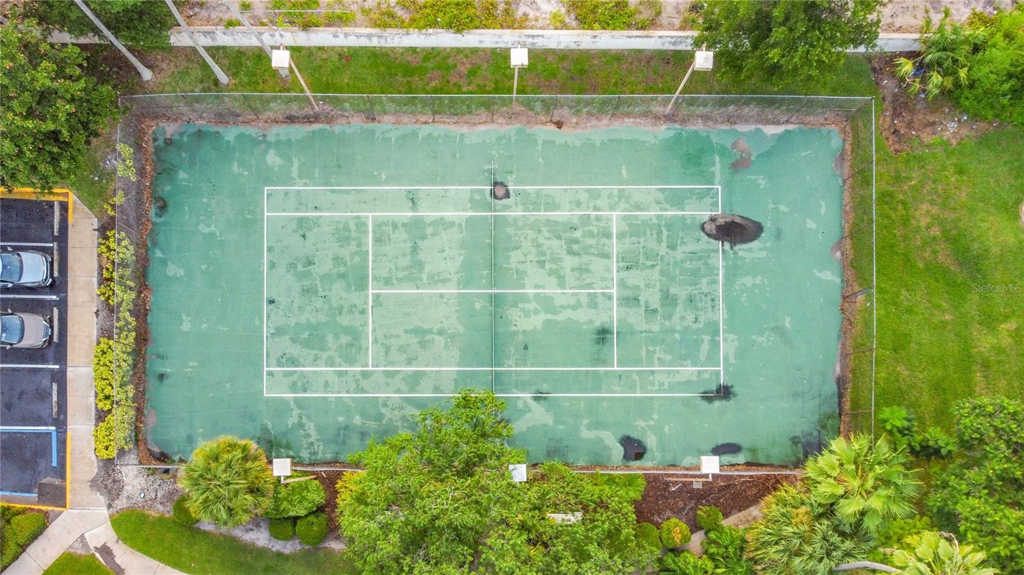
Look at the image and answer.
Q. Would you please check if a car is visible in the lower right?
No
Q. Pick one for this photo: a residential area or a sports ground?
sports ground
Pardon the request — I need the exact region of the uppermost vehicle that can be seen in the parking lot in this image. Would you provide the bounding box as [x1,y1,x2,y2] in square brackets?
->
[0,244,53,290]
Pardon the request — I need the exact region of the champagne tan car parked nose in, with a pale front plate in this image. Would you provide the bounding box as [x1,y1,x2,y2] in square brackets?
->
[0,306,52,351]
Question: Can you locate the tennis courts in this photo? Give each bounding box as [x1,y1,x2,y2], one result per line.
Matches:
[147,123,842,466]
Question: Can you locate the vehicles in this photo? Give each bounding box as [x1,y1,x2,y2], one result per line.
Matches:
[0,306,52,351]
[0,244,53,290]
